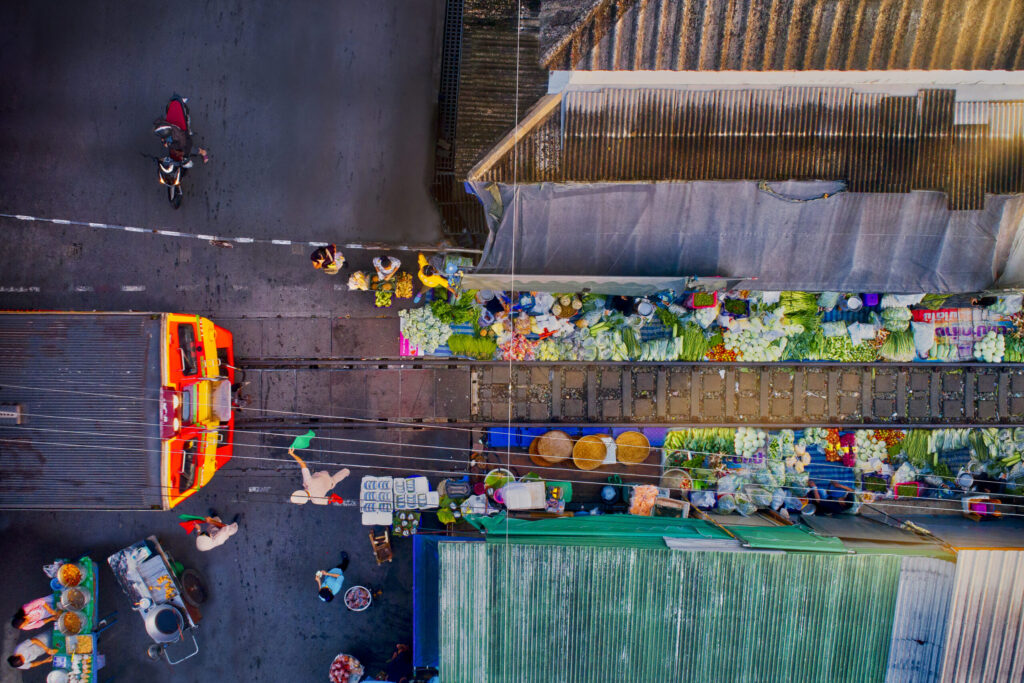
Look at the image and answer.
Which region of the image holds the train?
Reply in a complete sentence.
The train is located in the left region of the scene.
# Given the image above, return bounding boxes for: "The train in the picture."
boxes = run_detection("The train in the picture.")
[0,310,251,512]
